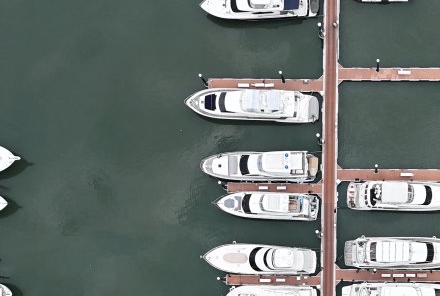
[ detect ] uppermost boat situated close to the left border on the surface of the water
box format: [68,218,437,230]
[0,147,21,171]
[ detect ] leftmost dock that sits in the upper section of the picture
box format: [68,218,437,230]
[208,71,322,100]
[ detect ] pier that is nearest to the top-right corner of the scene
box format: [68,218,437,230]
[338,59,440,90]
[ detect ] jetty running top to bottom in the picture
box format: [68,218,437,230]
[320,0,339,296]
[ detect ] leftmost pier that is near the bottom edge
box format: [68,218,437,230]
[225,267,320,295]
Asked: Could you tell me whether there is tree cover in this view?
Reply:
No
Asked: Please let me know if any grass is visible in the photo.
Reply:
No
